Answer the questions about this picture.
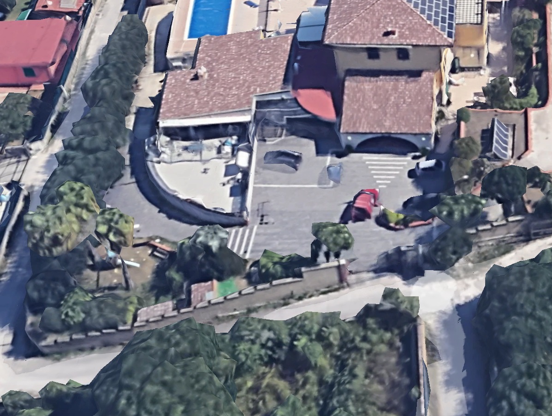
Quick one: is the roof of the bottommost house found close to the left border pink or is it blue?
pink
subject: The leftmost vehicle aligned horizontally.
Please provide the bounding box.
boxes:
[261,147,306,172]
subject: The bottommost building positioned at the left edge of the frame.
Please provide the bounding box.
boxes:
[0,19,78,100]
